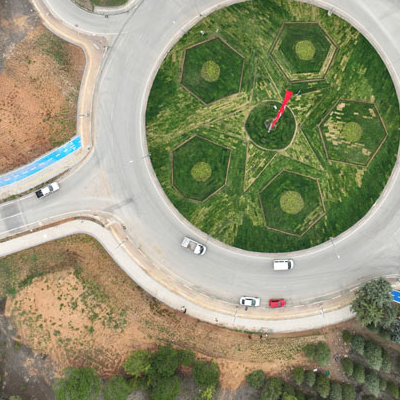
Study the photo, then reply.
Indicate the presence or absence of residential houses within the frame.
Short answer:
No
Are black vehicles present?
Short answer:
No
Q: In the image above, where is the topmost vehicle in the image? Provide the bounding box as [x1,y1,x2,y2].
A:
[34,180,60,198]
